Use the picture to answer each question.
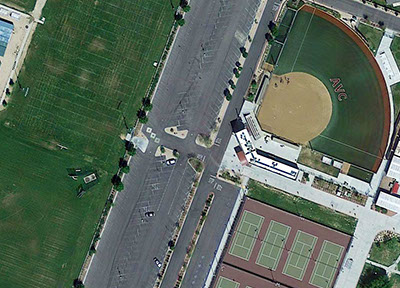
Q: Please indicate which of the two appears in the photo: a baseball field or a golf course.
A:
baseball field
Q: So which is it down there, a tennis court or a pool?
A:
tennis court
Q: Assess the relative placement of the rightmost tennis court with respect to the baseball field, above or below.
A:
below it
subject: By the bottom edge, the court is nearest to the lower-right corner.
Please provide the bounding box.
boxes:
[309,240,346,288]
